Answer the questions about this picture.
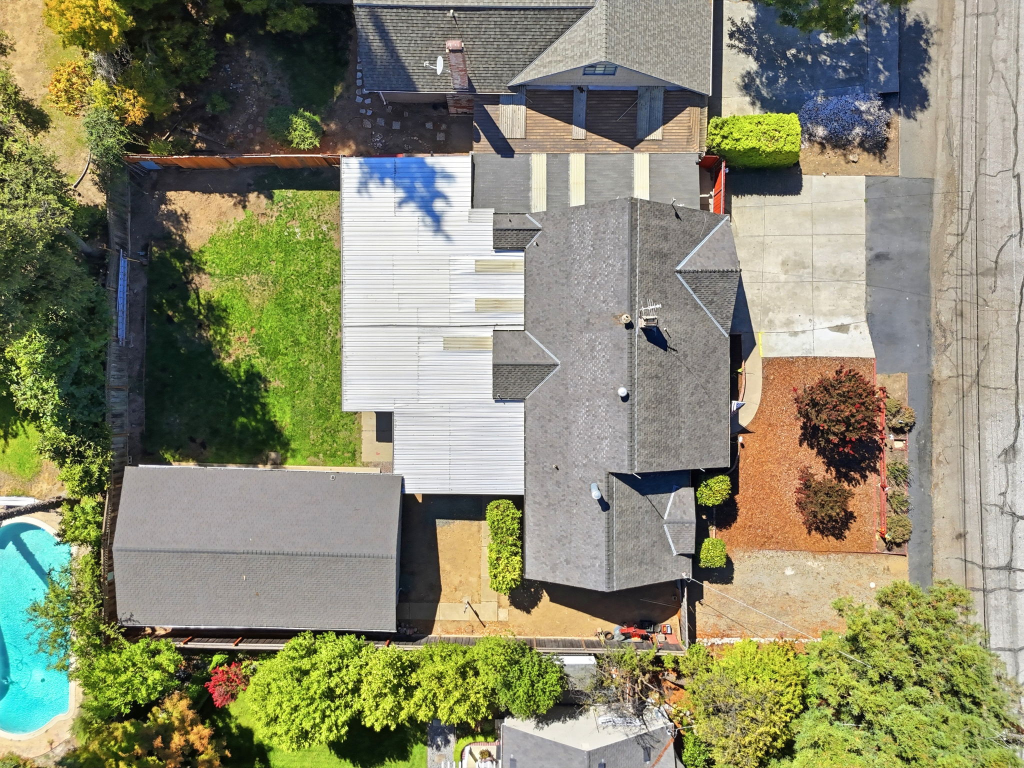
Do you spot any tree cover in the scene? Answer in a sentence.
Yes, there is tree cover in the image.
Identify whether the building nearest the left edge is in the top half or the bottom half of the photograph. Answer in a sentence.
The building nearest the left edge is in the bottom half of the image.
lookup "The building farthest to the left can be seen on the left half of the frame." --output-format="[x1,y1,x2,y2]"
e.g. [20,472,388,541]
[111,465,404,634]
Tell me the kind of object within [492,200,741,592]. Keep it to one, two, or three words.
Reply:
house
